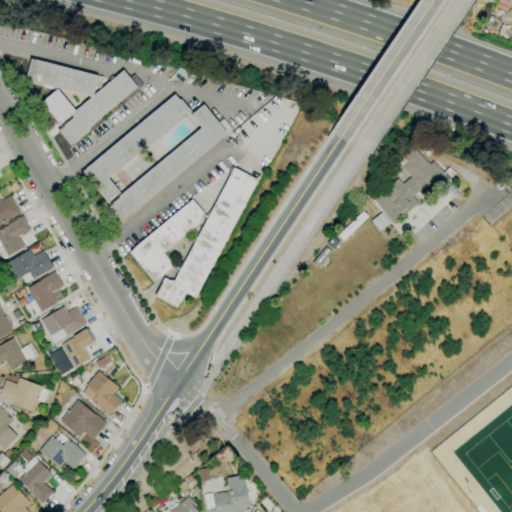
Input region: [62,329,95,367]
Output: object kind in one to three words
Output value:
house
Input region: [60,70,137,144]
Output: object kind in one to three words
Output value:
building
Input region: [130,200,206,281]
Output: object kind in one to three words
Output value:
building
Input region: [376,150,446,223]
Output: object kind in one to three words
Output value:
house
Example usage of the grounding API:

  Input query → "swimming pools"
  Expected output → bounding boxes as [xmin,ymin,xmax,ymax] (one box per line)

[162,122,191,149]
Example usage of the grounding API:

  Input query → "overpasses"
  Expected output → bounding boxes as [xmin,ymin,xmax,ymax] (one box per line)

[329,0,476,156]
